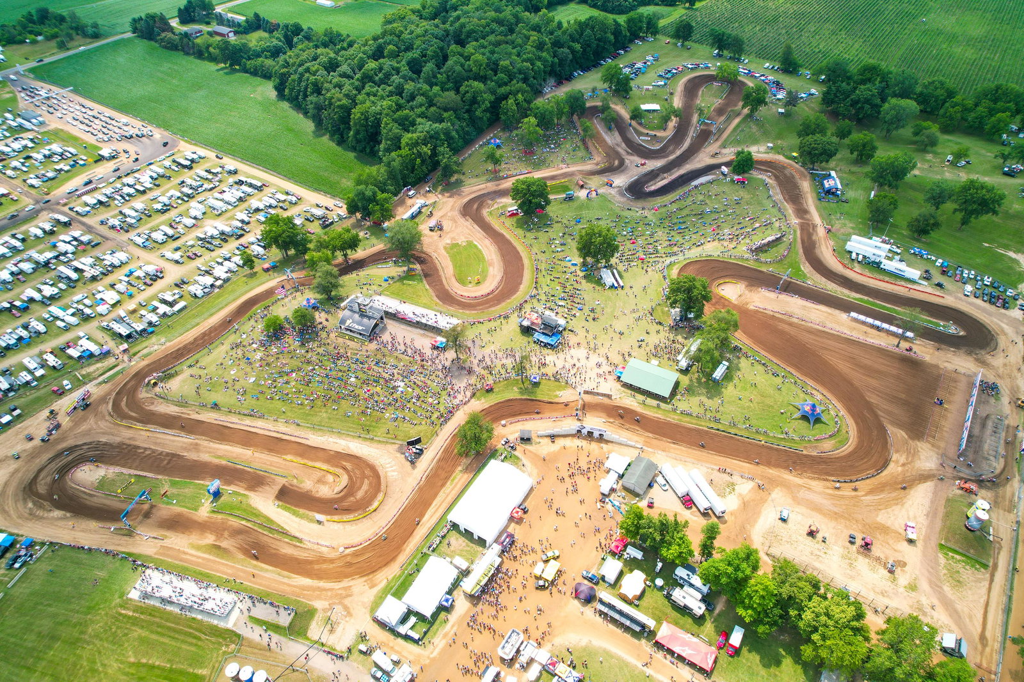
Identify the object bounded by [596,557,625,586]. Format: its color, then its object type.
white tent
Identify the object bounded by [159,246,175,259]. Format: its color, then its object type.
white vehicle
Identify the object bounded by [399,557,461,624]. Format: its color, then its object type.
white tent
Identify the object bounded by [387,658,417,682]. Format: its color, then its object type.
white truck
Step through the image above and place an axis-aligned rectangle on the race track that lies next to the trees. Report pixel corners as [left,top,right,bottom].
[28,70,995,580]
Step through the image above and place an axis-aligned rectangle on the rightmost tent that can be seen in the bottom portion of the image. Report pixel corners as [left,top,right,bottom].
[790,404,831,433]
